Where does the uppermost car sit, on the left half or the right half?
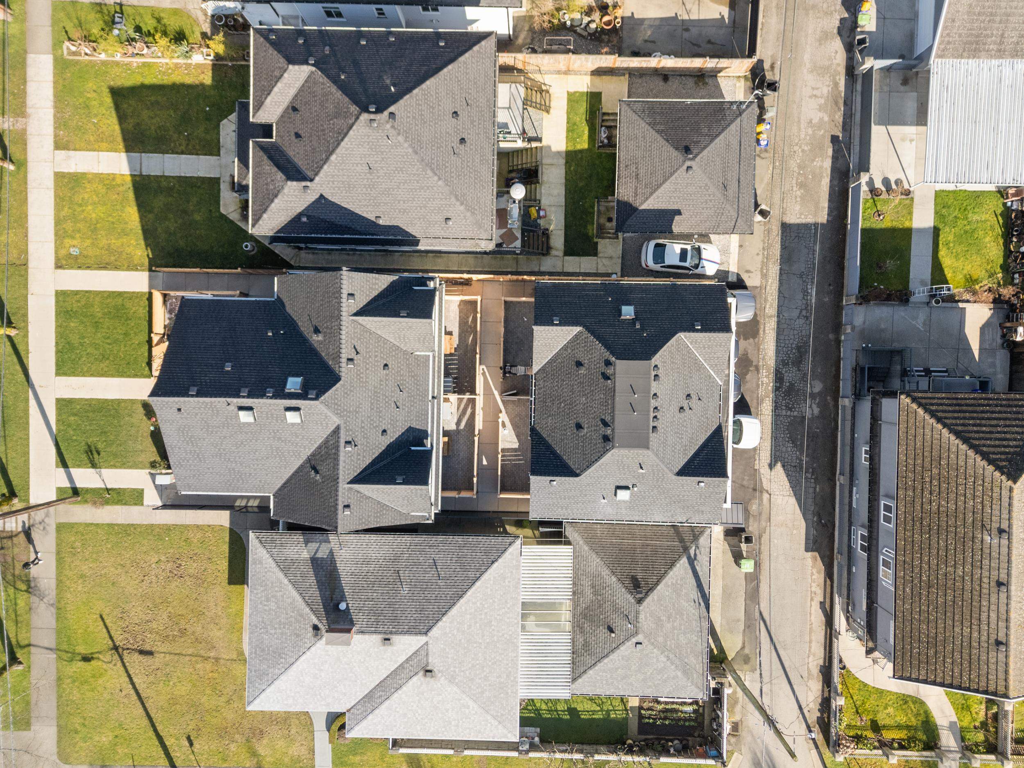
right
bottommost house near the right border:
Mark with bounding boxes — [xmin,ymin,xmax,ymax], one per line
[852,387,1024,704]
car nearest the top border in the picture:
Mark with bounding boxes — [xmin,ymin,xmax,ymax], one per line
[642,239,721,277]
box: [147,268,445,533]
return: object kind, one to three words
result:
house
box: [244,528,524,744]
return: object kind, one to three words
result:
house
